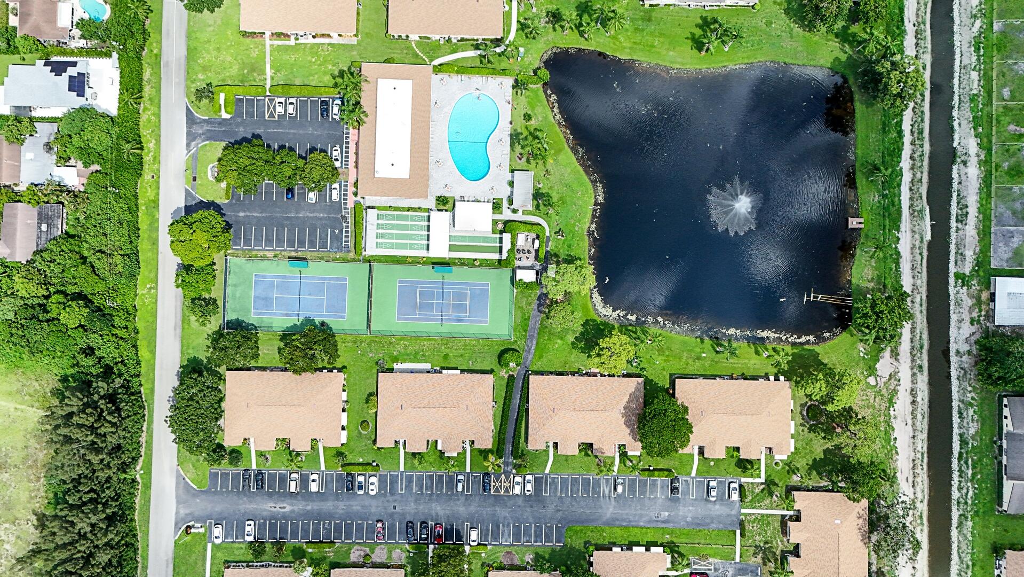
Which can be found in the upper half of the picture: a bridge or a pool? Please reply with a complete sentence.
The feature located in the upper half of the picture is a pool.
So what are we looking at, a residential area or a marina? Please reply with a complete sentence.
It's a residential area.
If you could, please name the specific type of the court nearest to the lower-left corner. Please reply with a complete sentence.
It looks like the court nearest to the lower-left corner is a tennis court.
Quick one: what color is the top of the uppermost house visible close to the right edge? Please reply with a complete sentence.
The roof over the uppermost house visible close to the right edge appears white.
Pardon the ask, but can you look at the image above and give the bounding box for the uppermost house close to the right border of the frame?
[987,277,1024,325]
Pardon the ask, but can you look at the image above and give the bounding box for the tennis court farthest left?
[223,259,368,335]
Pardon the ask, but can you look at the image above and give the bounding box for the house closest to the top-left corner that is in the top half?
[19,0,77,42]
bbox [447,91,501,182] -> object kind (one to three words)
swimming pool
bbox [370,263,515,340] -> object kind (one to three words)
tennis court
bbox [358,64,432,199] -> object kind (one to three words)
building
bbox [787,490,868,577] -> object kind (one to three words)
house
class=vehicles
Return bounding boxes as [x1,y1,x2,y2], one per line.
[483,472,491,492]
[320,99,329,119]
[455,473,464,492]
[331,100,341,119]
[330,183,340,201]
[276,97,285,116]
[730,481,739,501]
[470,527,478,544]
[405,521,414,541]
[434,524,443,542]
[331,146,341,166]
[513,475,522,495]
[245,519,255,540]
[311,472,319,491]
[368,474,377,494]
[308,190,316,203]
[243,469,251,488]
[419,522,428,541]
[375,521,384,540]
[615,477,623,493]
[525,474,533,493]
[255,470,265,489]
[345,472,353,491]
[290,471,299,492]
[213,524,223,542]
[287,97,296,116]
[286,188,294,203]
[708,480,716,499]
